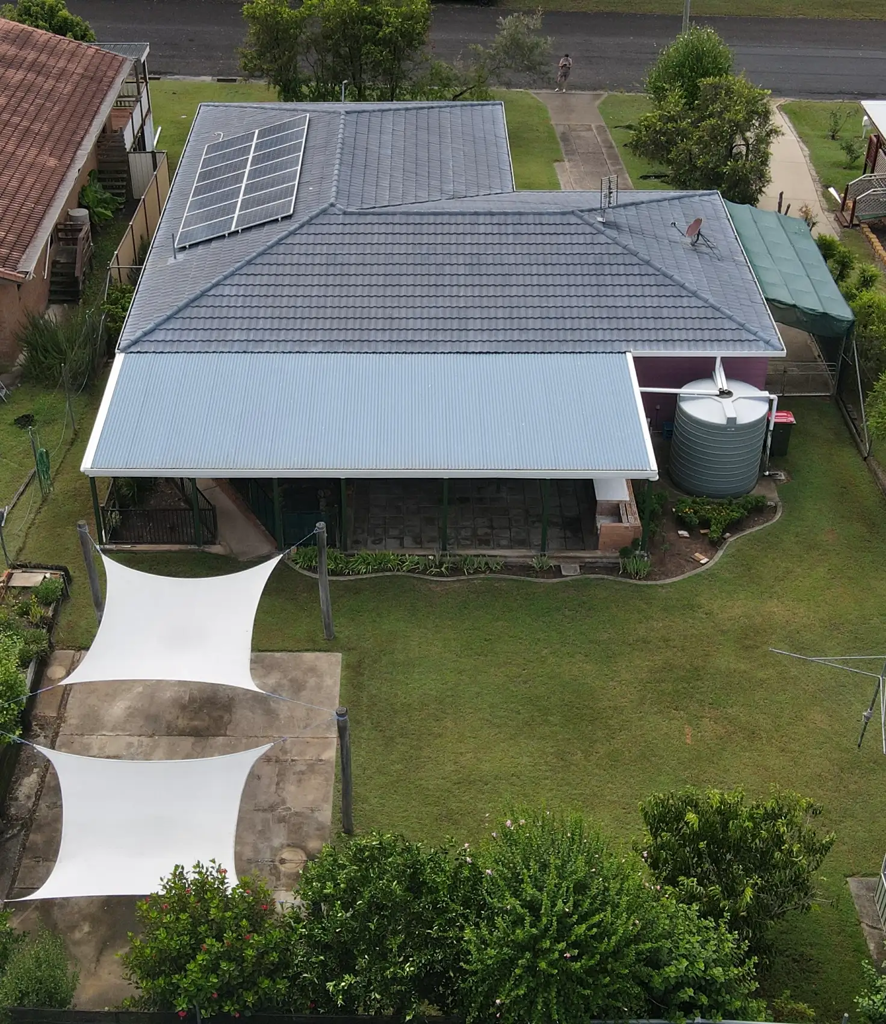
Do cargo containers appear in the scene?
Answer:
No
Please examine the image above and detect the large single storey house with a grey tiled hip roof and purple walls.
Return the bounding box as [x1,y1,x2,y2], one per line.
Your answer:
[115,101,789,424]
